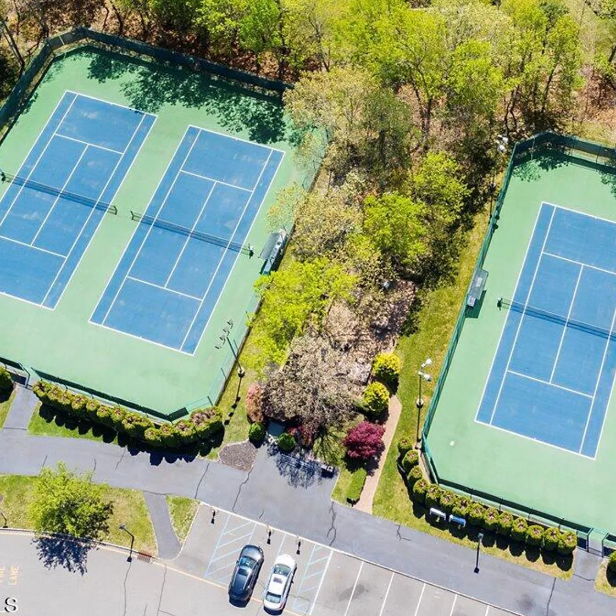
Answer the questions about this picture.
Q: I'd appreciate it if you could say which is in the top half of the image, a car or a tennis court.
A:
tennis court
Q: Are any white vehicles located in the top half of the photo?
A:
No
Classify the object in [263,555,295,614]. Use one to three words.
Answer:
car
